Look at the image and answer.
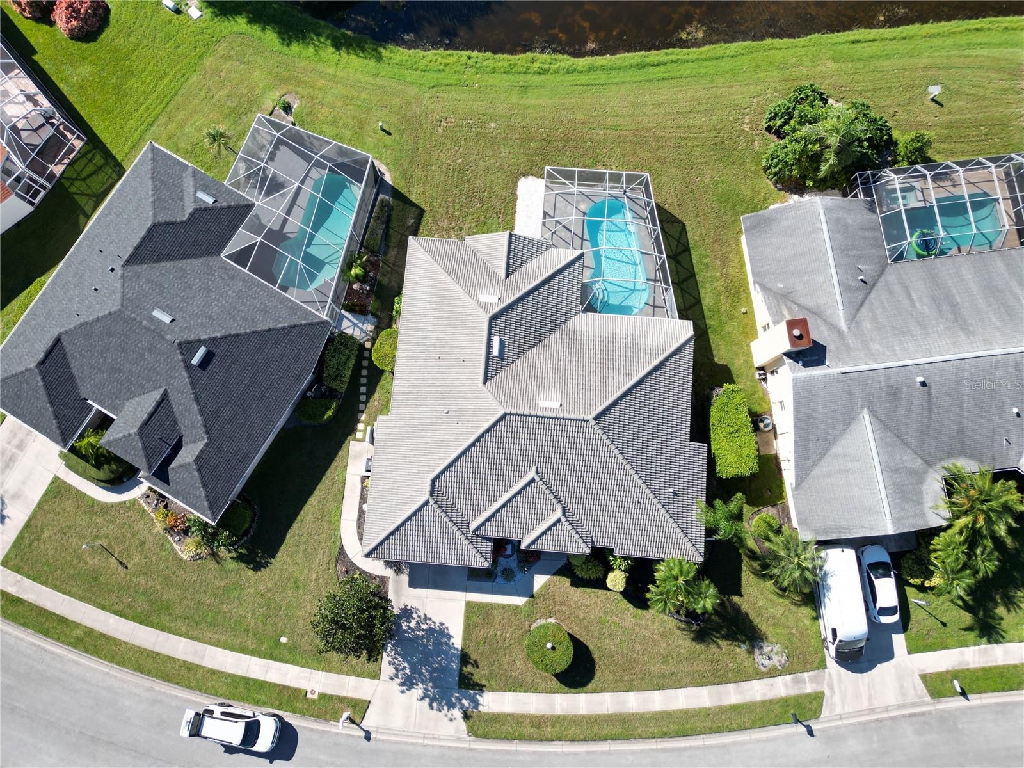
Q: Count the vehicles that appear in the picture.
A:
3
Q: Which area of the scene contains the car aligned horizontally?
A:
bottom left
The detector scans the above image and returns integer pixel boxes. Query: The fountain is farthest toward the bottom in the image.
[499,542,520,563]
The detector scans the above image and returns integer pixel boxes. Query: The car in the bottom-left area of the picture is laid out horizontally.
[177,700,283,749]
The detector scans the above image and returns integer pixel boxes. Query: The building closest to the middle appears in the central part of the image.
[360,230,708,569]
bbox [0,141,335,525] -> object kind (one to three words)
house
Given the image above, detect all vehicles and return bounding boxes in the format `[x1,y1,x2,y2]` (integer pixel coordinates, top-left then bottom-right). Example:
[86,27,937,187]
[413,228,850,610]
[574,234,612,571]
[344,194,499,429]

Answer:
[816,551,870,658]
[858,544,902,626]
[177,700,283,749]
